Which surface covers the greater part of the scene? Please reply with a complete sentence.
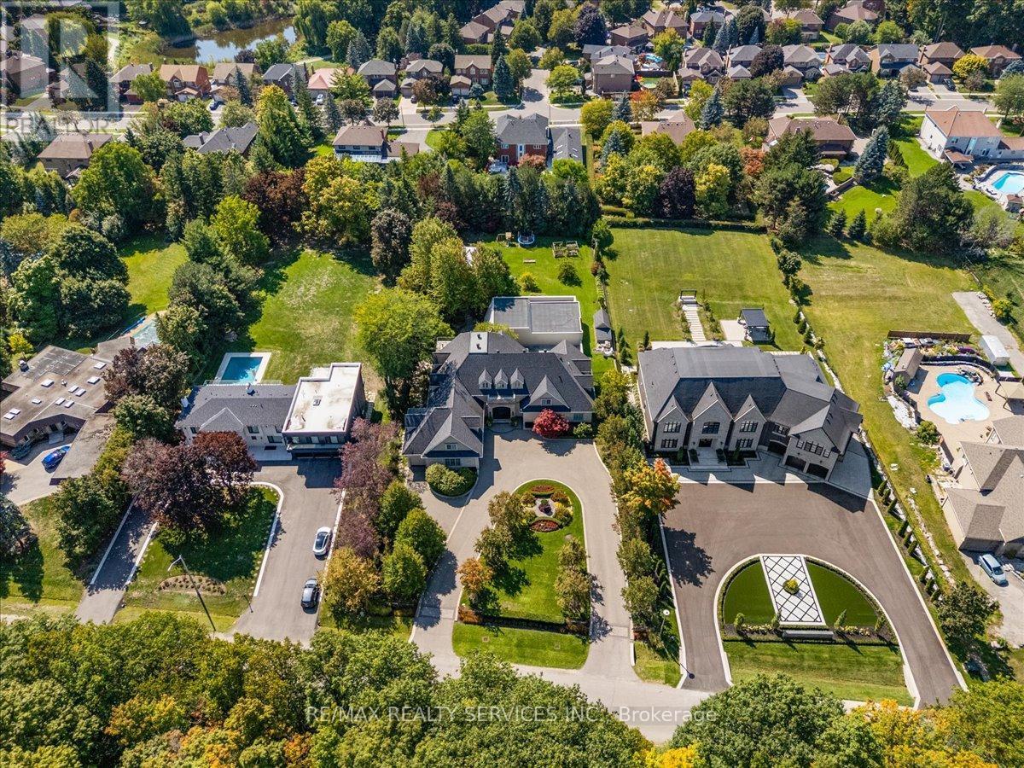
For the most part, this view shows trees.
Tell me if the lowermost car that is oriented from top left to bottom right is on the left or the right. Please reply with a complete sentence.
You can find the lowermost car that is oriented from top left to bottom right on the right side of the picture.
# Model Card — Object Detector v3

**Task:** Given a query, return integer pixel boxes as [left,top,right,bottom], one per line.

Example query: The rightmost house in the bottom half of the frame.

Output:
[937,413,1024,574]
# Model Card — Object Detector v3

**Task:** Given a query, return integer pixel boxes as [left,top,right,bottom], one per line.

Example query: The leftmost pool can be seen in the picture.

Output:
[129,309,161,346]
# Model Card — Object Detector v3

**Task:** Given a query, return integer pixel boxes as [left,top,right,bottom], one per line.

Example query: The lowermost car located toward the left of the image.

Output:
[296,574,320,609]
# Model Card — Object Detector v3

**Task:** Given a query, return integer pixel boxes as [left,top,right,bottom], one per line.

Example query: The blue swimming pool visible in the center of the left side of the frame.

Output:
[219,355,264,380]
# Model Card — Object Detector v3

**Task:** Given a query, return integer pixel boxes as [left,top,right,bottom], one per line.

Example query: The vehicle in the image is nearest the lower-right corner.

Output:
[977,550,1010,584]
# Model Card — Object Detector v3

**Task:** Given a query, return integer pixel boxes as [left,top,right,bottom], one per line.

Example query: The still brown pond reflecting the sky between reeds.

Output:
[161,20,296,61]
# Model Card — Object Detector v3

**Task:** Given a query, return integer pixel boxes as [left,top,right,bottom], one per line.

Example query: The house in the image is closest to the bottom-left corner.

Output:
[0,335,138,494]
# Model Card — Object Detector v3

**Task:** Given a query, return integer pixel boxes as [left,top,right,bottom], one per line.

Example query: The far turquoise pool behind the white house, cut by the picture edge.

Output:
[992,172,1024,195]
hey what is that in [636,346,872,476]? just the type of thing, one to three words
house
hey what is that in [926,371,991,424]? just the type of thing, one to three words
swimming pool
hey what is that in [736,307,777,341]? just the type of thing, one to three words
gazebo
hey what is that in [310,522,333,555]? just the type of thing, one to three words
car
